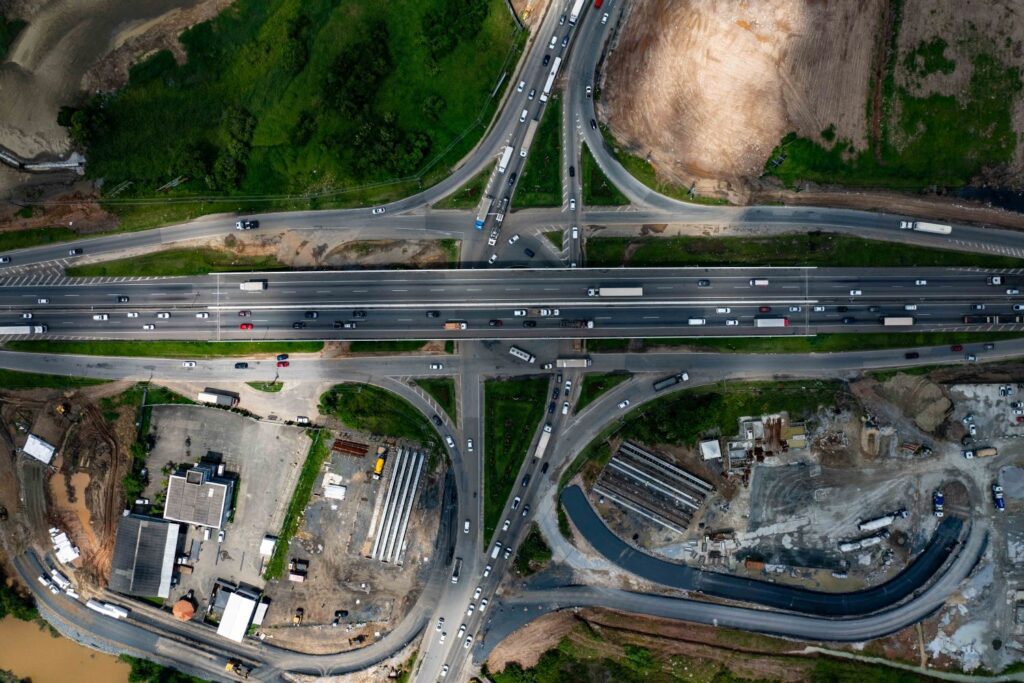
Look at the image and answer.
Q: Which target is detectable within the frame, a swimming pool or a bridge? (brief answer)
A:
bridge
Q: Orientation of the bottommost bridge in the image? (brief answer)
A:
horizontally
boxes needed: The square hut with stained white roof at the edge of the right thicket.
[699,439,721,459]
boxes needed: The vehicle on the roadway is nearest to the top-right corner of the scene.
[898,221,953,235]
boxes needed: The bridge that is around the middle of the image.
[208,267,818,342]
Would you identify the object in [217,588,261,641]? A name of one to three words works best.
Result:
building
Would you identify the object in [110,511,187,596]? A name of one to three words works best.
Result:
building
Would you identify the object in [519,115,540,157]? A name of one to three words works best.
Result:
truck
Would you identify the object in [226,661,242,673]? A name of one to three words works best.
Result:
vehicle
